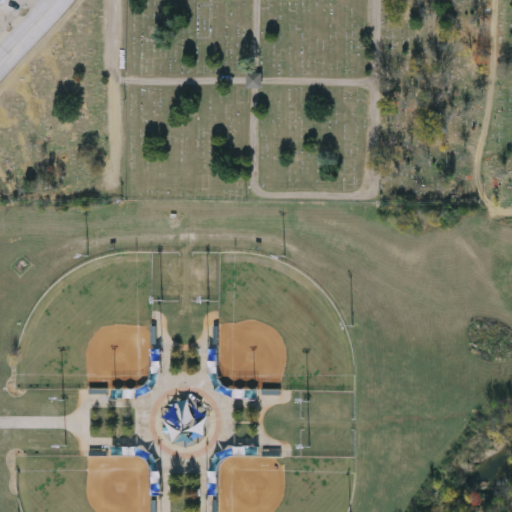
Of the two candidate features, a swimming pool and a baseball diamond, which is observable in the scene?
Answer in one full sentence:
The image shows a baseball diamond.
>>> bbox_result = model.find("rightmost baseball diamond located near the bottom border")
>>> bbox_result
[219,458,354,512]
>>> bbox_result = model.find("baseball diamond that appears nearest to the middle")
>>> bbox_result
[219,253,354,392]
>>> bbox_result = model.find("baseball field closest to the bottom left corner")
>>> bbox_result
[18,457,152,512]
